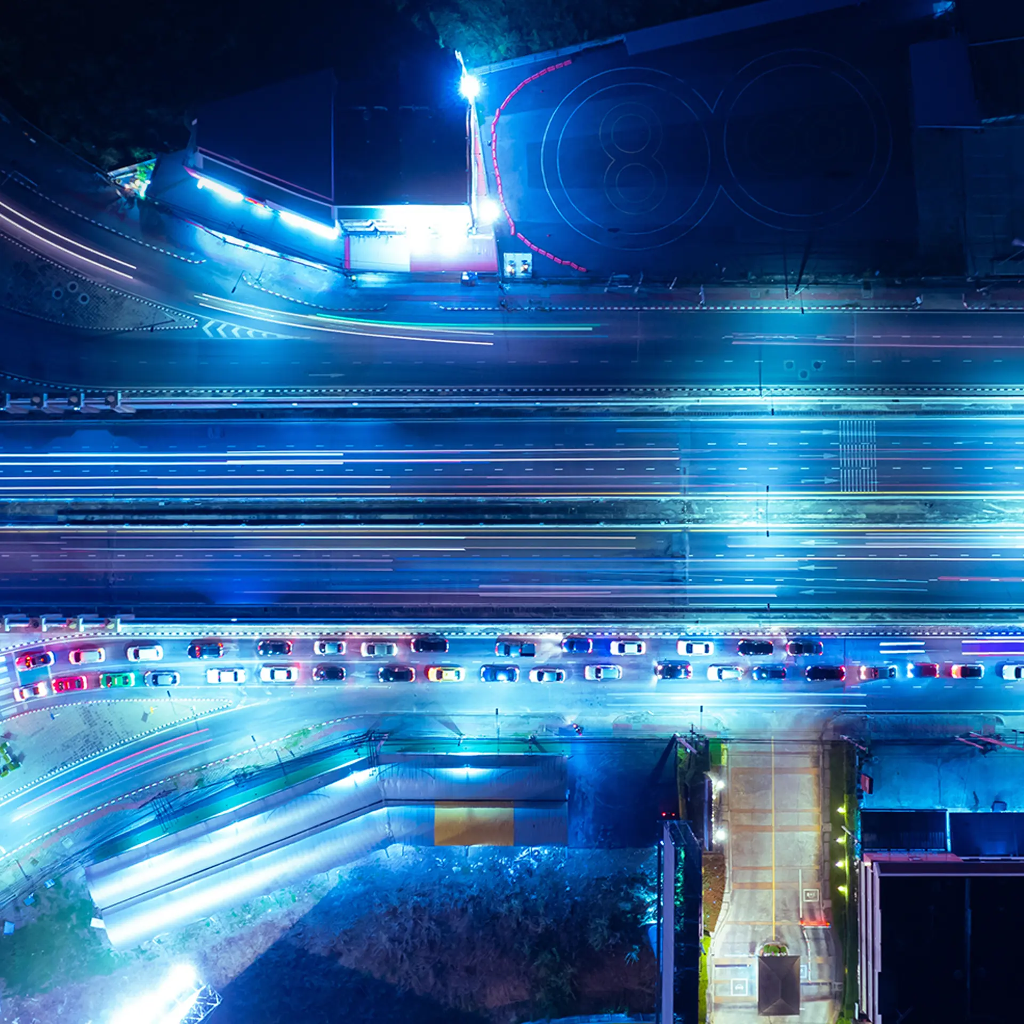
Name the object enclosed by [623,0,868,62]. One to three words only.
shed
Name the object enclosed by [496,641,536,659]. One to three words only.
vehicle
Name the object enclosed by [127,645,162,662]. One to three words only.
car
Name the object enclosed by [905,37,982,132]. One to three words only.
building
